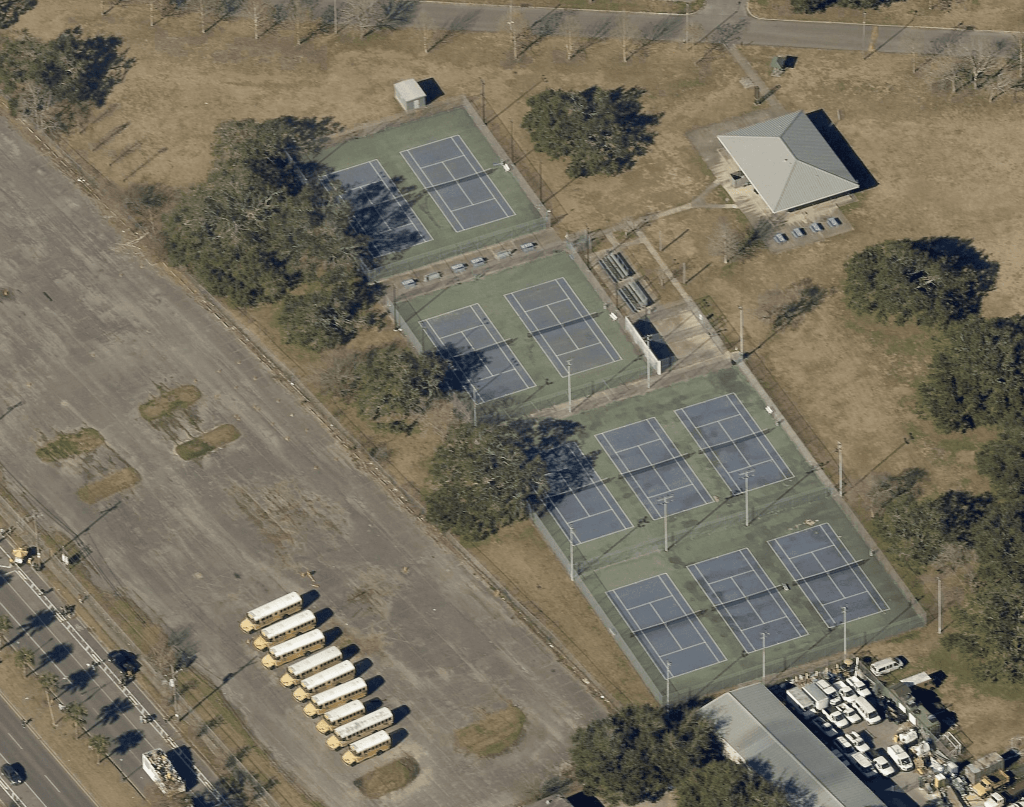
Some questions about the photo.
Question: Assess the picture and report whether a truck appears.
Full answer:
Yes, there is a truck in the image.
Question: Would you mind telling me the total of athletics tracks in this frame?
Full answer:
The picture shows no athletics tracks.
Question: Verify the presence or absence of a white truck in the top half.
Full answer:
No, there's no white truck to be seen in the top half.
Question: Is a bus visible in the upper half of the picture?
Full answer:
No, there's no bus to be seen in the upper half of the picture.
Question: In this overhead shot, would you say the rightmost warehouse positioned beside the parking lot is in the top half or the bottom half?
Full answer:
The bottom half of the photo is where the rightmost warehouse positioned beside the parking lot is.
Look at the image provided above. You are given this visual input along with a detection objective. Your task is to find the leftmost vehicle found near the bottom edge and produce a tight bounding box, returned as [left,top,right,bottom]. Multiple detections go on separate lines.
[0,761,25,784]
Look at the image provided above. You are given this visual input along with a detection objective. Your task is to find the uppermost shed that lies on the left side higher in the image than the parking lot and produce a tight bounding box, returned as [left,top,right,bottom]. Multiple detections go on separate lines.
[393,81,424,114]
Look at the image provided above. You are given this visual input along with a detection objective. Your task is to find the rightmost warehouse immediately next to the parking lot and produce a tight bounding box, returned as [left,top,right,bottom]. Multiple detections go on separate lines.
[701,681,888,807]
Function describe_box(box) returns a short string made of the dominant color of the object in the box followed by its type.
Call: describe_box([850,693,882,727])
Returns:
white van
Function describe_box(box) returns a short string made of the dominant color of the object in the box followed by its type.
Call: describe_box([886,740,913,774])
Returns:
white vehicle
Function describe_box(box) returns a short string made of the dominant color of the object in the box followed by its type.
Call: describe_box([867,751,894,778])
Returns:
white truck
